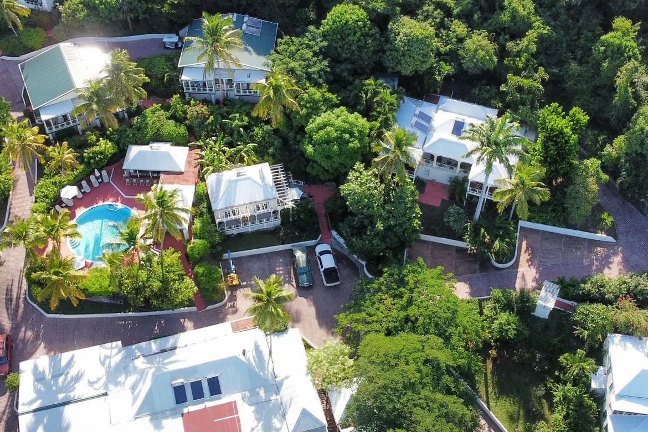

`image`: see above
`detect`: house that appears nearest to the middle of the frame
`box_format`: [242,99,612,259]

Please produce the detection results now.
[205,160,308,247]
